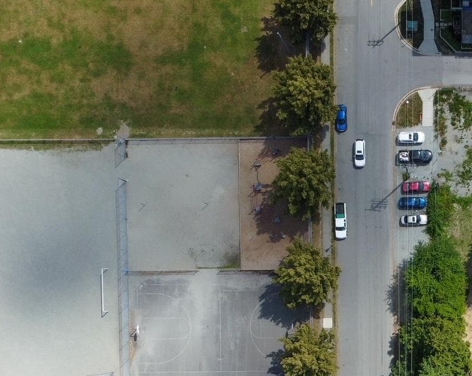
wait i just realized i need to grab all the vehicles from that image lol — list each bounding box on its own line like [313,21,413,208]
[334,203,347,239]
[335,105,347,132]
[397,149,431,164]
[399,197,427,209]
[353,140,366,168]
[400,180,430,193]
[397,130,426,144]
[399,214,427,226]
